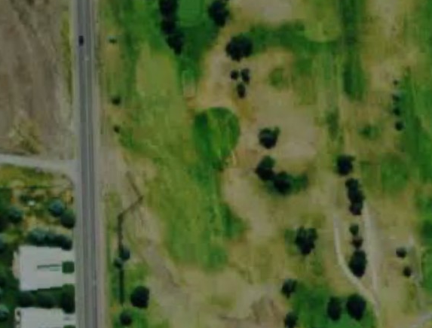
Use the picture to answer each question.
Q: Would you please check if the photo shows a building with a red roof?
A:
No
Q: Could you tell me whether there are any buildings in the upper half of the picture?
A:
No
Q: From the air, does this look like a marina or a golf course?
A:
golf course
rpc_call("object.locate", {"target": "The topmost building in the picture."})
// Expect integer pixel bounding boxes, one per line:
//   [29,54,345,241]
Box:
[19,247,61,292]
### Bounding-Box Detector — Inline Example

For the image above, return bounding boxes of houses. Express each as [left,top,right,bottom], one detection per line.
[21,309,65,328]
[19,247,61,292]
